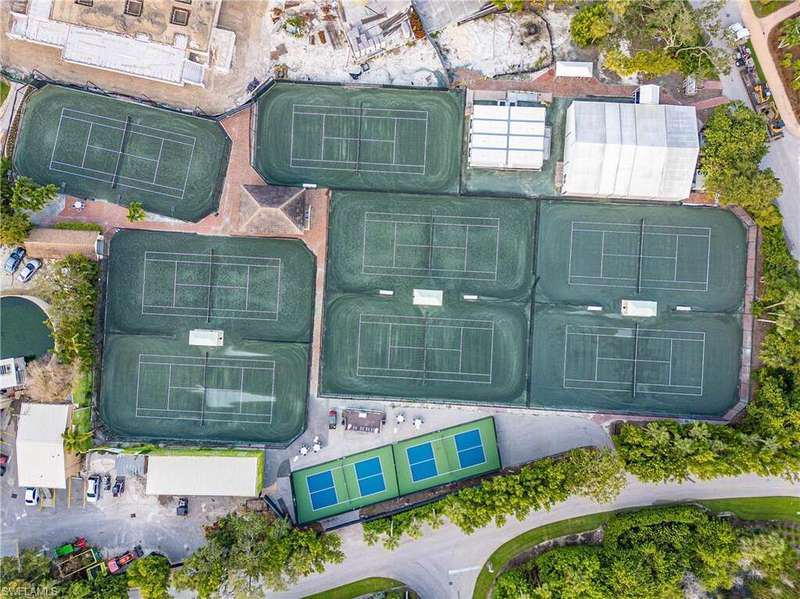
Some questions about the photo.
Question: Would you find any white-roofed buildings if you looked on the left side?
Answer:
Yes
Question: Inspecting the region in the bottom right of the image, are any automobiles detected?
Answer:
No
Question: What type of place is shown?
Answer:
sports ground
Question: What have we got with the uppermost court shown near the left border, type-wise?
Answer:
tennis court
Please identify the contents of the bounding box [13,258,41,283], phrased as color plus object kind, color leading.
white car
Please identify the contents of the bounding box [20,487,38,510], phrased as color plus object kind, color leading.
white car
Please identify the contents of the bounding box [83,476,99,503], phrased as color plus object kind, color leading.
white vehicle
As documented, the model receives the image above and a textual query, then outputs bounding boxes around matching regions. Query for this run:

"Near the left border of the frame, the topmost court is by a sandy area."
[14,84,231,222]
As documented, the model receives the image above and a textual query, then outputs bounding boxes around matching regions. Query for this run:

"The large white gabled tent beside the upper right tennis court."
[559,102,700,205]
